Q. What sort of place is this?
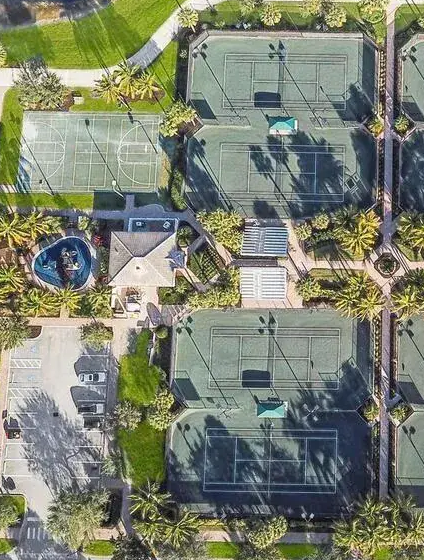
sports ground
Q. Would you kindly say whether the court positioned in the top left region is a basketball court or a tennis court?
basketball court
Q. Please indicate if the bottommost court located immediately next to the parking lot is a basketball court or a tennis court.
tennis court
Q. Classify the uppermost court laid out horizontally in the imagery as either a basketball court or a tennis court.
tennis court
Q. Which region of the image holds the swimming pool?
left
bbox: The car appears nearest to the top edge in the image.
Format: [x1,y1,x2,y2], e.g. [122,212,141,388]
[78,372,107,385]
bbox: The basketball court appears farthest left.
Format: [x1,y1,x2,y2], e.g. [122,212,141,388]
[17,112,161,193]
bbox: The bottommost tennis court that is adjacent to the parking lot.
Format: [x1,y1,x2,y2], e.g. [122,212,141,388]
[166,409,372,518]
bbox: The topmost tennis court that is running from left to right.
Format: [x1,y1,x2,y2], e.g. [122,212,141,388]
[187,34,375,125]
